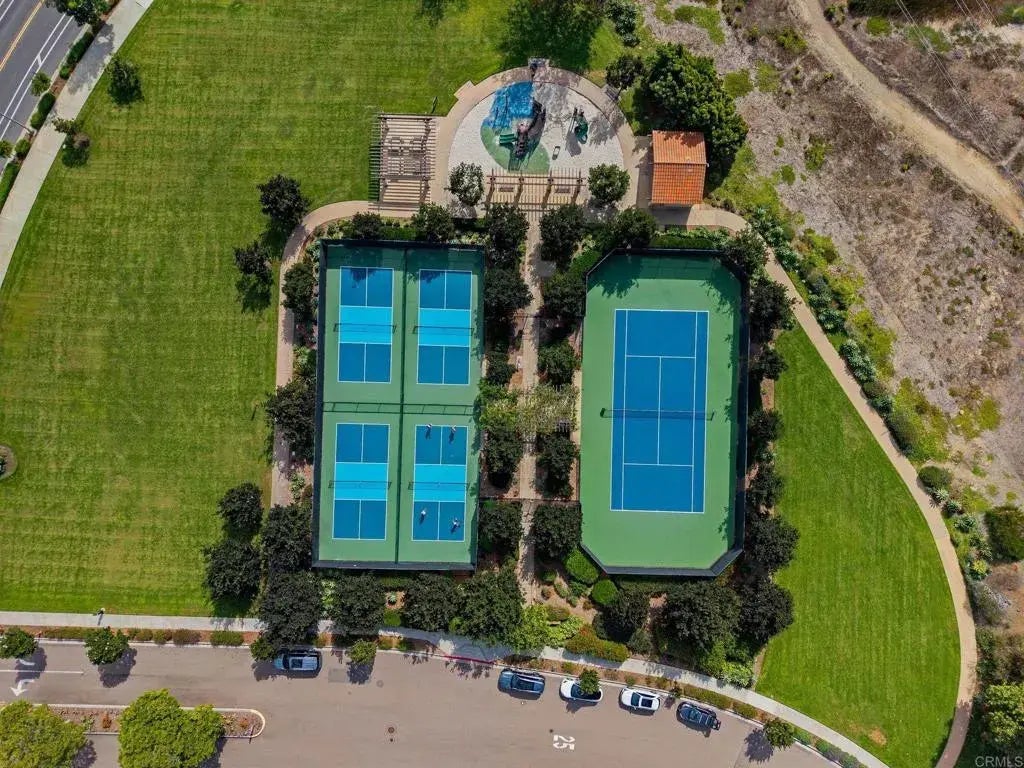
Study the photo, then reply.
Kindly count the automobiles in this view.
five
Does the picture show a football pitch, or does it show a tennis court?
tennis court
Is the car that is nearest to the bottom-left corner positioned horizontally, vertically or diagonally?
horizontally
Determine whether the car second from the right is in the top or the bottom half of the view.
bottom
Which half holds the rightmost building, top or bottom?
top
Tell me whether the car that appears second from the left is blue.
Yes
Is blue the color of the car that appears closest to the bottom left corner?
Yes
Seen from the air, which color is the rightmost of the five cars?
blue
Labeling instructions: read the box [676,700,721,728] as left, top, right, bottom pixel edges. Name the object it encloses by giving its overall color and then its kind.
blue car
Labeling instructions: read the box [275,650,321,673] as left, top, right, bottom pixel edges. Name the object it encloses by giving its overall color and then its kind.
blue car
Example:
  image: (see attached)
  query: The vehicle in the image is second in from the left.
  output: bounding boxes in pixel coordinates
[499,668,544,694]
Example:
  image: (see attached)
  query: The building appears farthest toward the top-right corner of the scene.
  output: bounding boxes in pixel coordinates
[649,131,708,205]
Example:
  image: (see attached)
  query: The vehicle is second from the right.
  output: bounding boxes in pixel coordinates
[618,687,660,711]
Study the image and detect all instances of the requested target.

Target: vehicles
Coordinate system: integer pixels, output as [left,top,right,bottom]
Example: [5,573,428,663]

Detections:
[676,700,721,728]
[559,677,603,702]
[275,650,321,673]
[618,687,660,711]
[499,668,544,694]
